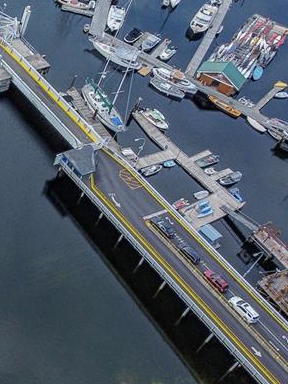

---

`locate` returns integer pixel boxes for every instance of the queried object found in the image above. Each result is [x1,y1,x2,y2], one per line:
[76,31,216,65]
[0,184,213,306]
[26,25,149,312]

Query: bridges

[52,146,288,384]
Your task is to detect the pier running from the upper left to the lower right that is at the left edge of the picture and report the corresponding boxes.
[0,38,50,75]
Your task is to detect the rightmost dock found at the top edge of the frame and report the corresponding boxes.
[217,14,286,87]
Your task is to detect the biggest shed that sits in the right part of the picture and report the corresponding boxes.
[199,53,249,96]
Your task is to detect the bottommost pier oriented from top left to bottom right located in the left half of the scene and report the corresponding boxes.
[68,90,121,155]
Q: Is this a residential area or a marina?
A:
marina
